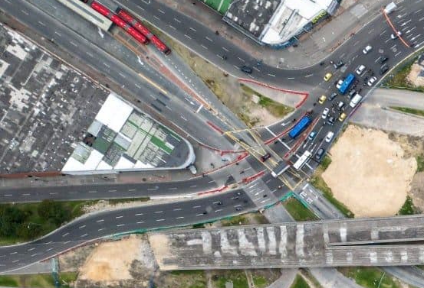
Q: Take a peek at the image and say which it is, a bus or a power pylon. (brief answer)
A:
bus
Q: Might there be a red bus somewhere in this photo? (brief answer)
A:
Yes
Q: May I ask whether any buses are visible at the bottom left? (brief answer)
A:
No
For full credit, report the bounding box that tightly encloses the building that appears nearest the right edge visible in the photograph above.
[261,0,357,53]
